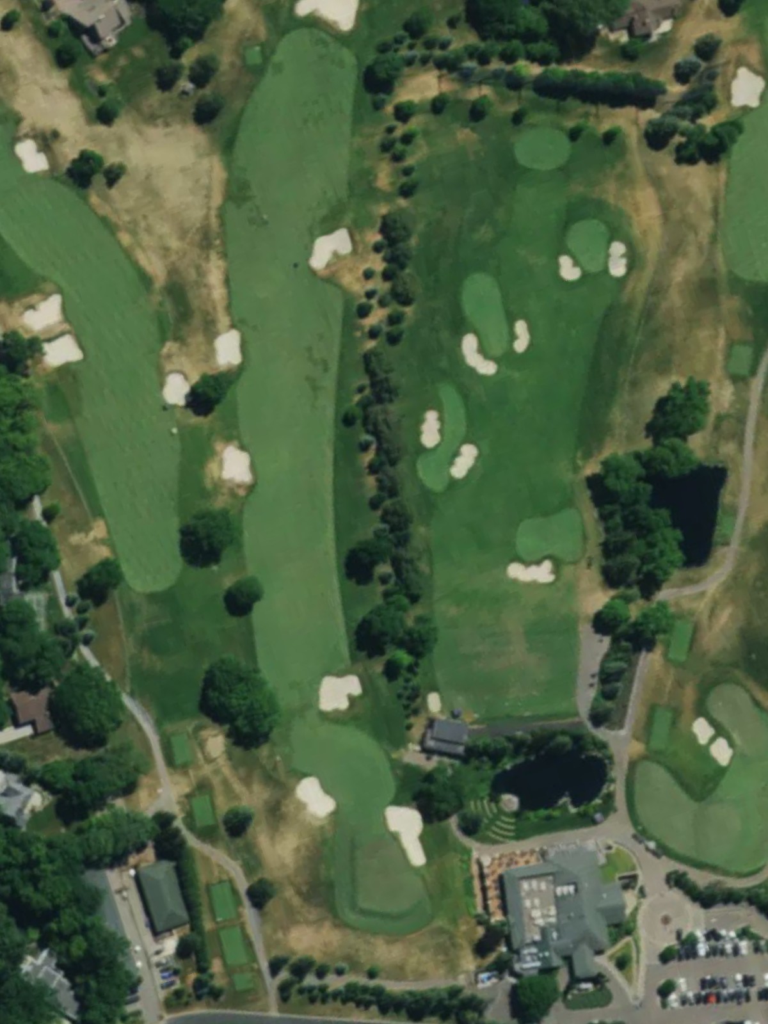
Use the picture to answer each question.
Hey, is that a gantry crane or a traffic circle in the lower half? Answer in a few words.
traffic circle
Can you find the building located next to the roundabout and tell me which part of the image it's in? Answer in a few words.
bottom right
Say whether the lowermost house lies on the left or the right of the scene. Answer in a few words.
left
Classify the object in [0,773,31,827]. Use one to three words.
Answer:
house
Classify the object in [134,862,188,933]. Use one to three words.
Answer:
barn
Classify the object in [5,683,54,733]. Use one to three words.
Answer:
house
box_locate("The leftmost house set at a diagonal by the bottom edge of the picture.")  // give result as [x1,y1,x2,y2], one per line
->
[19,949,78,1018]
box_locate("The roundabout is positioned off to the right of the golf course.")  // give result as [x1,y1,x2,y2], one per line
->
[636,884,696,946]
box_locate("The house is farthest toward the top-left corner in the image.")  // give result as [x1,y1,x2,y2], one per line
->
[47,0,131,40]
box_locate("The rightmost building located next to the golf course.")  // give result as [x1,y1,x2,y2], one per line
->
[498,848,626,978]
